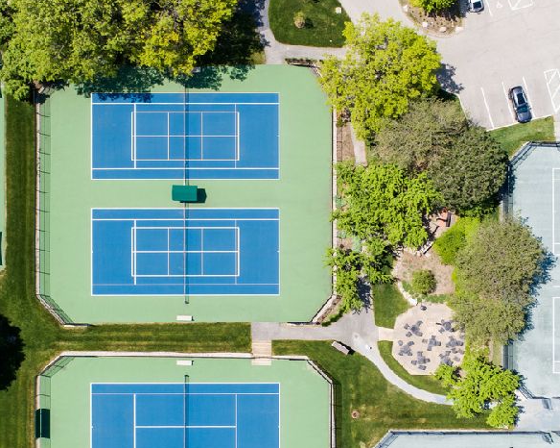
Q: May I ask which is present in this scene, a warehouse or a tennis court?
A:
tennis court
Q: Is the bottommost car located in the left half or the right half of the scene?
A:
right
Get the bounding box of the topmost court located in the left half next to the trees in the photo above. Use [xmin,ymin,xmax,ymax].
[91,93,280,179]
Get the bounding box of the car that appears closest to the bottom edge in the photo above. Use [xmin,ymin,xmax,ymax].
[509,83,532,123]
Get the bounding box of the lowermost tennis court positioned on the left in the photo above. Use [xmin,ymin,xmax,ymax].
[91,383,280,448]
